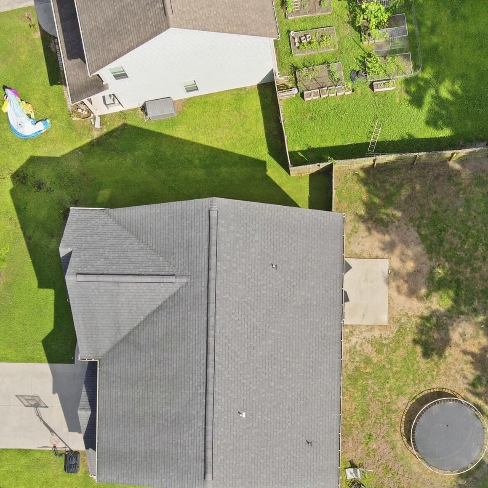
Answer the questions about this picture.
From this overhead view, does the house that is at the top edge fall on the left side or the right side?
left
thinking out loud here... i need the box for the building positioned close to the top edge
[48,0,281,123]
